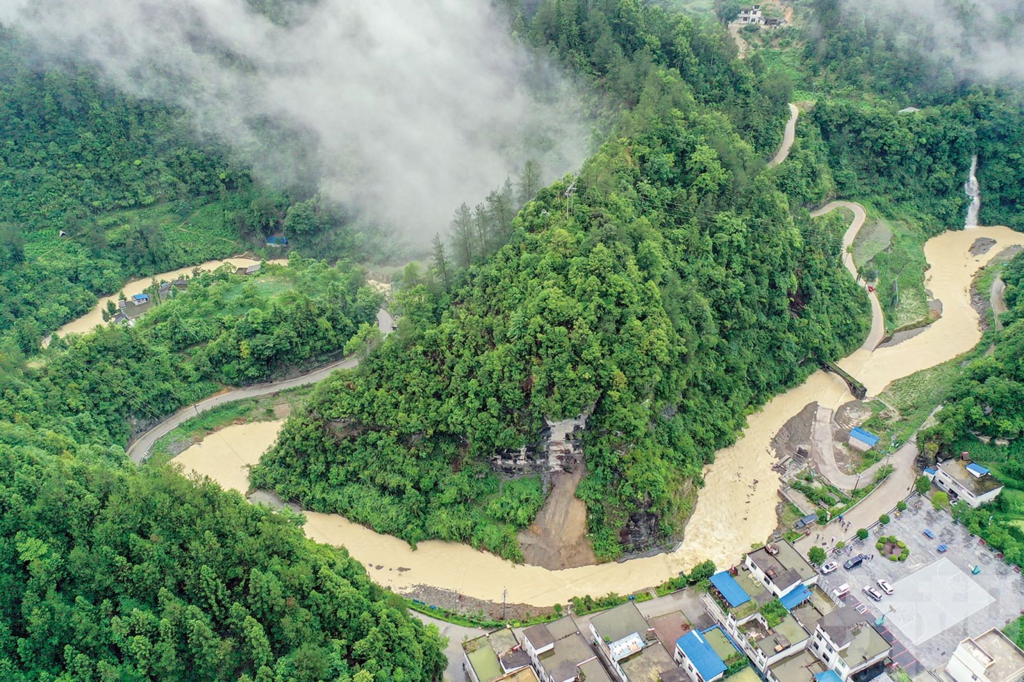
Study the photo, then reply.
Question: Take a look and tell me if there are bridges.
Yes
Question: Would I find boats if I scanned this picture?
No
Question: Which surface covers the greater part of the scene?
trees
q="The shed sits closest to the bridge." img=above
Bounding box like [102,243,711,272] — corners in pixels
[847,427,881,451]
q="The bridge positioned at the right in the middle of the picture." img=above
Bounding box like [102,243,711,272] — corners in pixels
[820,361,867,402]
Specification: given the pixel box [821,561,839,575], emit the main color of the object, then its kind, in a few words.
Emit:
white car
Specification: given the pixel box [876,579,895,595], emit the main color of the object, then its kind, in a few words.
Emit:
white car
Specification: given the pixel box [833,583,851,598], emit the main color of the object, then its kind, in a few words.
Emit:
white vehicle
